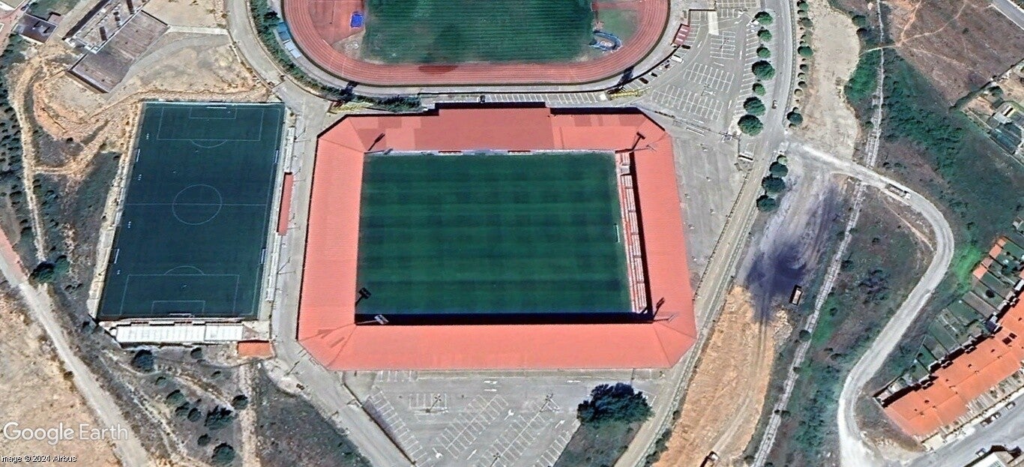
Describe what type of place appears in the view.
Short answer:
sports ground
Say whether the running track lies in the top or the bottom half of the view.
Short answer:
top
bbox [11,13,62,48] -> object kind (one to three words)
house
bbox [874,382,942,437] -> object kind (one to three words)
house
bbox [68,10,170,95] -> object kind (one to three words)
building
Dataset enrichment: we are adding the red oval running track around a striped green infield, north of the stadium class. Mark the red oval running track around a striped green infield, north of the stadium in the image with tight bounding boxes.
[284,0,668,85]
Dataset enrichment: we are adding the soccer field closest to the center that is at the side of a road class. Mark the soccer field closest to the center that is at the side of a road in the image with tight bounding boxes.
[357,156,633,323]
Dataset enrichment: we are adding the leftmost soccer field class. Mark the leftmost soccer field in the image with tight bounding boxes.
[97,103,285,320]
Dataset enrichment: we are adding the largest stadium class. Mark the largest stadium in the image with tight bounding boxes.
[294,108,696,370]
